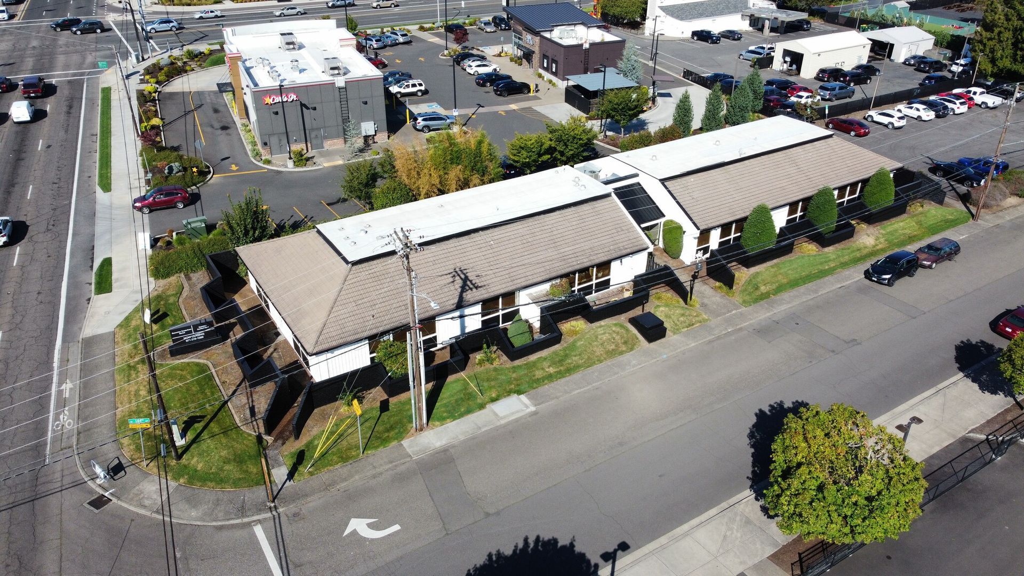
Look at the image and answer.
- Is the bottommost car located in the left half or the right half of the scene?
right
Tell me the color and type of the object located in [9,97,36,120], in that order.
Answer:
white vehicle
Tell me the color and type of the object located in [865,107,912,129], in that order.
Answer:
white car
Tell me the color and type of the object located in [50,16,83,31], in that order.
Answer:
black car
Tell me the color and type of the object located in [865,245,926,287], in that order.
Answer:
black car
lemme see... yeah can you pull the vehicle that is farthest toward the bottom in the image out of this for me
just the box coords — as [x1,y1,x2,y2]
[991,300,1024,335]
